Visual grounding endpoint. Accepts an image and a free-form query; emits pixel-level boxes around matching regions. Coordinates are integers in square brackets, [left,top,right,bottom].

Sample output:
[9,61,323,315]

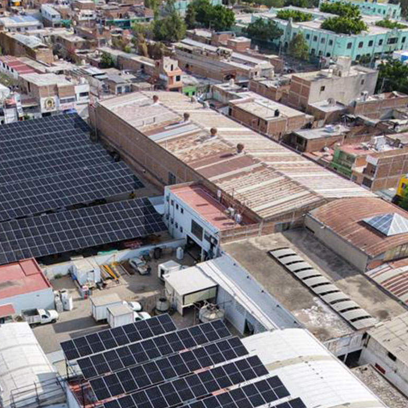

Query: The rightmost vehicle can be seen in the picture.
[161,254,197,275]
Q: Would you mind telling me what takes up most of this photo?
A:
buildings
